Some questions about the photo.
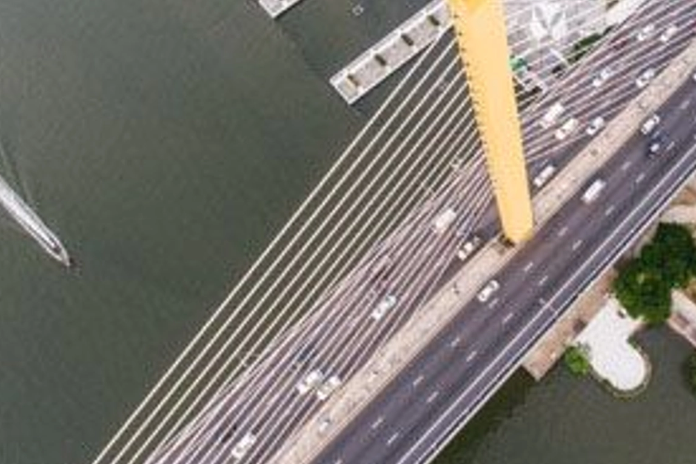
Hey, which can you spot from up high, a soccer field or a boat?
boat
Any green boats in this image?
No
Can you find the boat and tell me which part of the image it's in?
left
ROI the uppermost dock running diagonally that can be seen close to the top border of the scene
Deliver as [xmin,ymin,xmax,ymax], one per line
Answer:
[330,8,450,105]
